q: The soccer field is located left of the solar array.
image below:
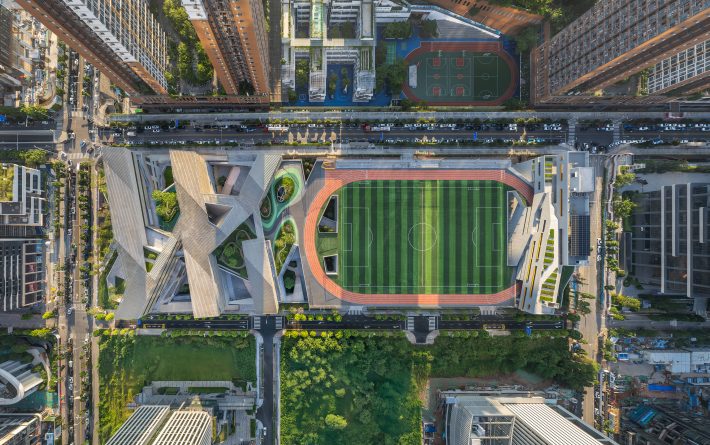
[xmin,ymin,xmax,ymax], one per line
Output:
[316,179,528,293]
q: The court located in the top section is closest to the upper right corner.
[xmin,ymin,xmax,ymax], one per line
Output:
[404,41,519,106]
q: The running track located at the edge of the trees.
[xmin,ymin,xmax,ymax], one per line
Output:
[303,168,529,306]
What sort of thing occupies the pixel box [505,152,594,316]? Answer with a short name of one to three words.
building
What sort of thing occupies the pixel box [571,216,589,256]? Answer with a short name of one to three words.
solar array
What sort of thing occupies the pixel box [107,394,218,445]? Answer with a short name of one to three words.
building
